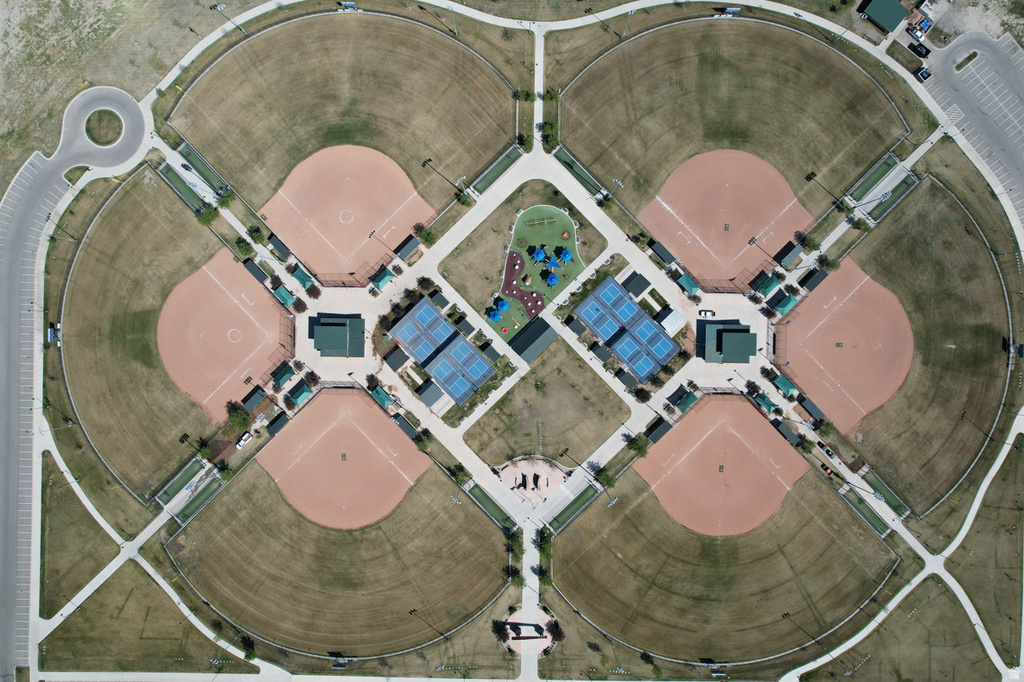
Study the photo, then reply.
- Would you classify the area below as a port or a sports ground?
sports ground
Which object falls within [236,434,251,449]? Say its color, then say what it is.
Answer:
white vehicle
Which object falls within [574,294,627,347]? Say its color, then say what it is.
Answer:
blue sports court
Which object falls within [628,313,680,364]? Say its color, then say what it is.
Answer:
blue sports court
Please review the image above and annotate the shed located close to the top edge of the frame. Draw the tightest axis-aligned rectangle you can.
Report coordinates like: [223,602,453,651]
[863,0,907,34]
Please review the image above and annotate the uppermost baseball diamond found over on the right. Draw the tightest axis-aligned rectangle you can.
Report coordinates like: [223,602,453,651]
[543,18,909,293]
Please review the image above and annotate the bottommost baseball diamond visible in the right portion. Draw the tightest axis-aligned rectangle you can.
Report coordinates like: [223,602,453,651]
[549,394,913,664]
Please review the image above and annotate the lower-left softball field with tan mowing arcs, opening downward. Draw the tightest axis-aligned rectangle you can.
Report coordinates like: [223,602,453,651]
[137,390,544,658]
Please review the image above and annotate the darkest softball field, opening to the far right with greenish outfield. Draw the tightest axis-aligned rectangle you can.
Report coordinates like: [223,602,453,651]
[775,177,1011,517]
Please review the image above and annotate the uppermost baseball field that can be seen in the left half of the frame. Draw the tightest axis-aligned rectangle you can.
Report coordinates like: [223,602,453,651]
[154,12,530,286]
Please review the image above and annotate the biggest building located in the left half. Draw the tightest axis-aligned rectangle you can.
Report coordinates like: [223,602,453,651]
[314,318,365,357]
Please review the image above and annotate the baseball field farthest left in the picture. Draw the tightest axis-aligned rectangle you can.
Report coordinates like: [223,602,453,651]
[62,164,295,504]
